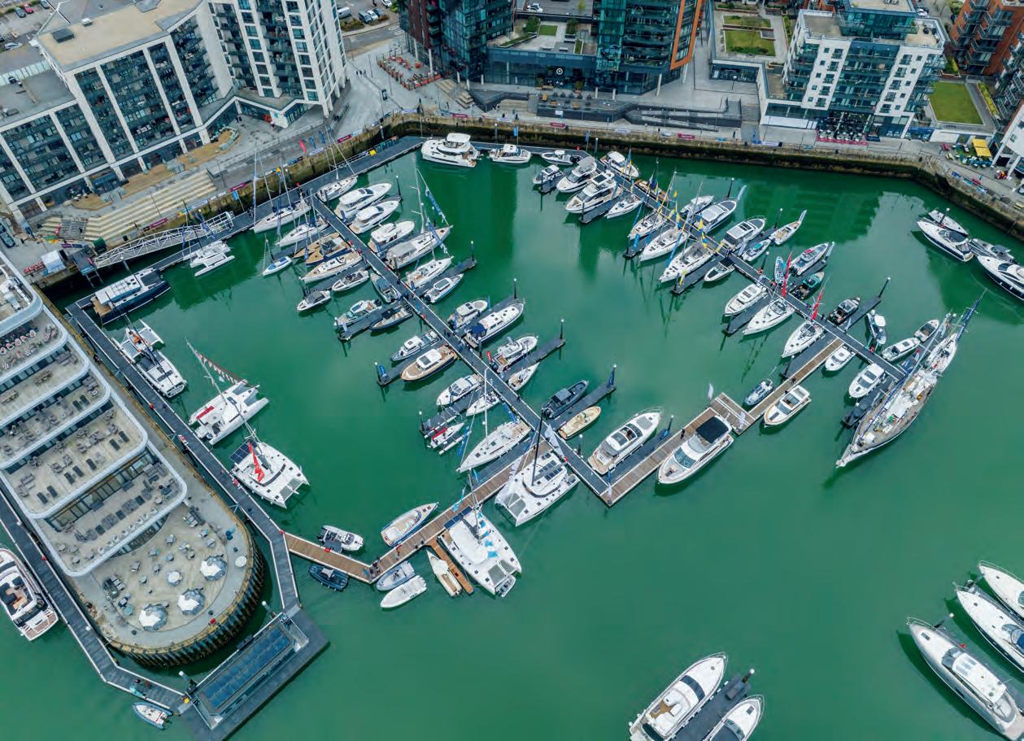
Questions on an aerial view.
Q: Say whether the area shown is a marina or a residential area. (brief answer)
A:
marina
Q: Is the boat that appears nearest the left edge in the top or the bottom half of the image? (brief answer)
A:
bottom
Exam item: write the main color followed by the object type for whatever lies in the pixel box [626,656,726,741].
white boat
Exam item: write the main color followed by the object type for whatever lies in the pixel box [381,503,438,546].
white boat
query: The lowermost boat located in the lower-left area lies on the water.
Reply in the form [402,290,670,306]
[131,701,172,729]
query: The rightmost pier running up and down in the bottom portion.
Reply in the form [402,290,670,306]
[270,533,299,607]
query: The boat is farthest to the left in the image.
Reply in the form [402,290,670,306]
[0,540,58,643]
